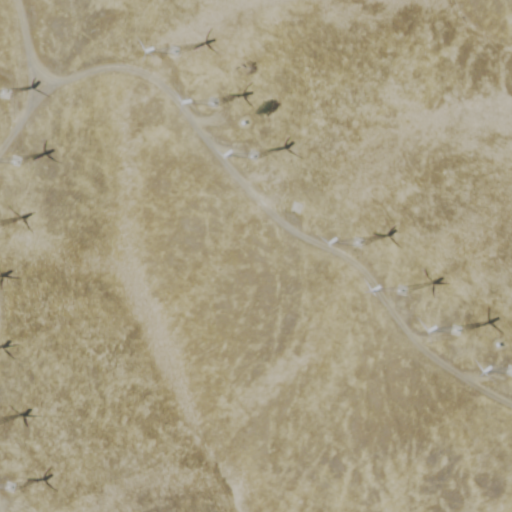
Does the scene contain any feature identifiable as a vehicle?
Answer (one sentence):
No, this view has no vehicle in it.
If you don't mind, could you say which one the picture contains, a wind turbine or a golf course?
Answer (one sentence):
Visible in the photo is a wind turbine.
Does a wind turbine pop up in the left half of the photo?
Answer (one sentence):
Yes, a wind turbine appears in the left half of the photo.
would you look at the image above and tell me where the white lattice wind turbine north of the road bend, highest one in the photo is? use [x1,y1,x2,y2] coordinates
[141,36,180,63]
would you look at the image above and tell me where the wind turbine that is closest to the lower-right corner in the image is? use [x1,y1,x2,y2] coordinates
[476,359,512,384]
